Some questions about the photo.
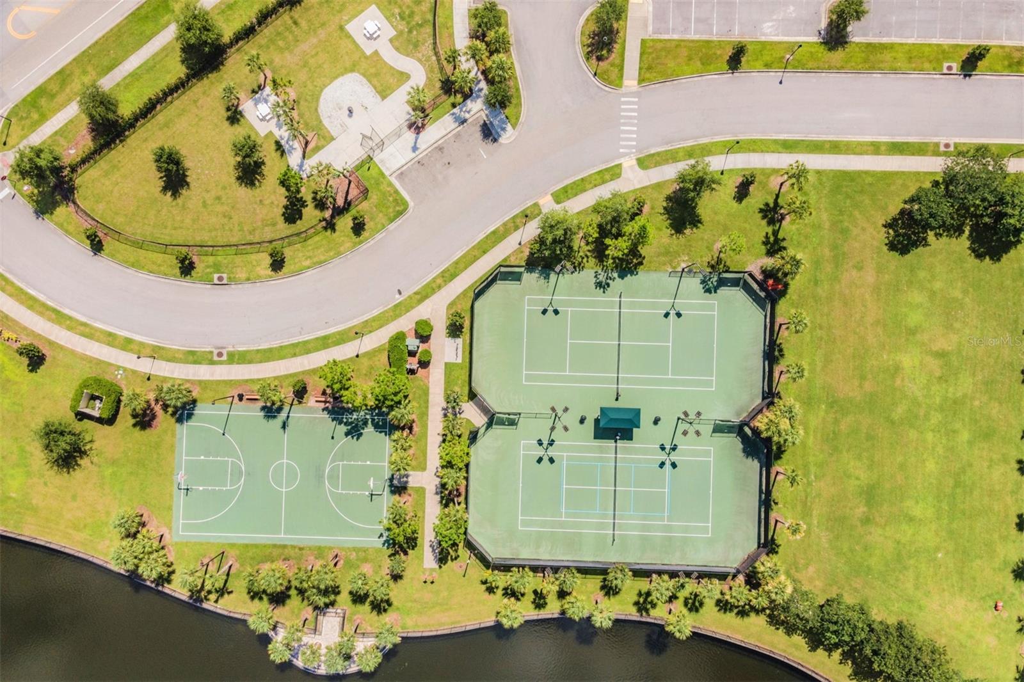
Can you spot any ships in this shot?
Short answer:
No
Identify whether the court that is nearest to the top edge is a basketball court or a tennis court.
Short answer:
tennis court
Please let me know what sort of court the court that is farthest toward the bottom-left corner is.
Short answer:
basketball court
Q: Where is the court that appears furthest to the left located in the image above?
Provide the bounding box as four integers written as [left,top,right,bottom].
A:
[173,404,392,547]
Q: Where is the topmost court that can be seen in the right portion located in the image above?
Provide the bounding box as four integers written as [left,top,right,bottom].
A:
[472,269,764,421]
